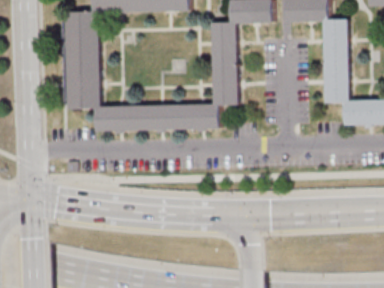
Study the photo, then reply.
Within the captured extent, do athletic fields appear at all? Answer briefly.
No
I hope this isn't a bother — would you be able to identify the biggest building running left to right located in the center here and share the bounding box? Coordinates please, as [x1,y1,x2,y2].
[92,103,221,132]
